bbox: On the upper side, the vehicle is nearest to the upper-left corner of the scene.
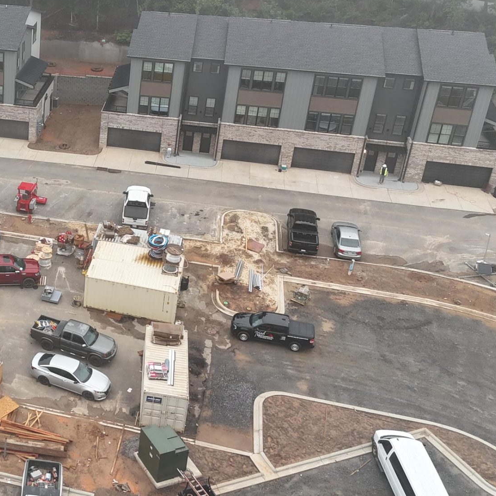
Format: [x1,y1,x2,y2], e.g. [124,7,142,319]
[16,174,61,211]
